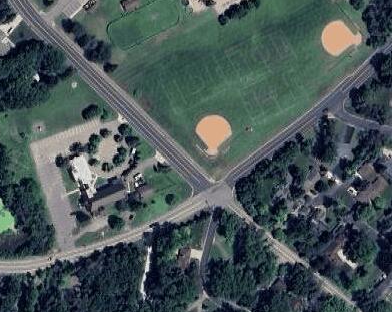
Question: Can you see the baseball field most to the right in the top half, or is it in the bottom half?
top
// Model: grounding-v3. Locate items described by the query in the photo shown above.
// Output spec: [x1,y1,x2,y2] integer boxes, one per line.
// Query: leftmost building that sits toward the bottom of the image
[69,156,130,221]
